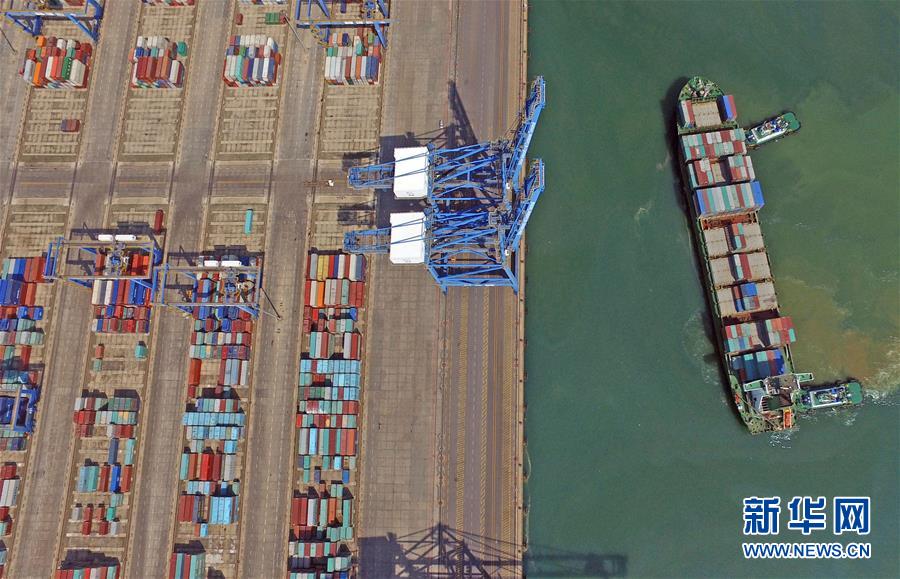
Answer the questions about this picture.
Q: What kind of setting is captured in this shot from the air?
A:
port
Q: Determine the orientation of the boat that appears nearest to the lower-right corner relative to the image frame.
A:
horizontally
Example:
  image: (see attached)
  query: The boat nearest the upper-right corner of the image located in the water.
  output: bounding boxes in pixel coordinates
[750,113,802,150]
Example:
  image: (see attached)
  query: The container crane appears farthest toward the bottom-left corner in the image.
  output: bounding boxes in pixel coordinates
[0,381,43,440]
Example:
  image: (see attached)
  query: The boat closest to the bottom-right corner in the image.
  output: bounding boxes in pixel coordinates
[800,381,864,410]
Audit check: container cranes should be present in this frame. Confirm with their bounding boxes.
[0,0,106,43]
[346,81,549,229]
[342,165,549,295]
[295,0,397,51]
[149,260,269,318]
[45,233,170,293]
[0,381,43,440]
